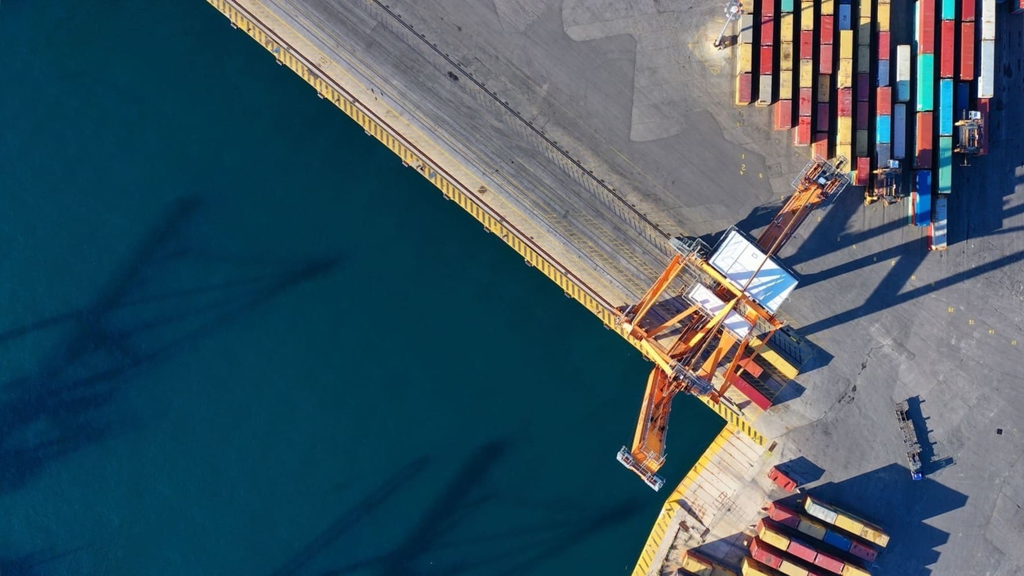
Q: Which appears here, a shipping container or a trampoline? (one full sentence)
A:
It is a shipping container that can be seen here.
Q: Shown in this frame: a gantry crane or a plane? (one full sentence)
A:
This aerial view contains a gantry crane.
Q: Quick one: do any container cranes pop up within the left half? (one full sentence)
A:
No, no container crane appears within the left half.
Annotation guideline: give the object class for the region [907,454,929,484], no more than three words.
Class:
truck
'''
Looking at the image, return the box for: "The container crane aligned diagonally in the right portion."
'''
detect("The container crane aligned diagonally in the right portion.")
[607,148,852,487]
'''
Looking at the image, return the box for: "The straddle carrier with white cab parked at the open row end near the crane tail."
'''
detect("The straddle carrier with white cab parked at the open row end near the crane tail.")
[863,157,899,207]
